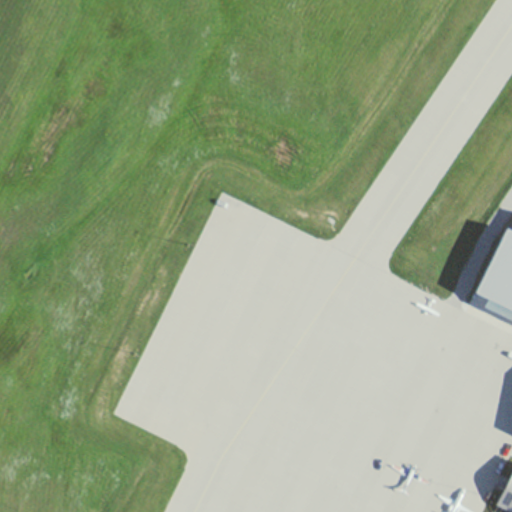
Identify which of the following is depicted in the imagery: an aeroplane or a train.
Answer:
aeroplane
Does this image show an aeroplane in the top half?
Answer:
No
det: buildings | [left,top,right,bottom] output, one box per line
[470,226,512,321]
[496,472,512,512]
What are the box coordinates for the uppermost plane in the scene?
[416,298,441,317]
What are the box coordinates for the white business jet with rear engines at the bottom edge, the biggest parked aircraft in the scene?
[434,488,470,512]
